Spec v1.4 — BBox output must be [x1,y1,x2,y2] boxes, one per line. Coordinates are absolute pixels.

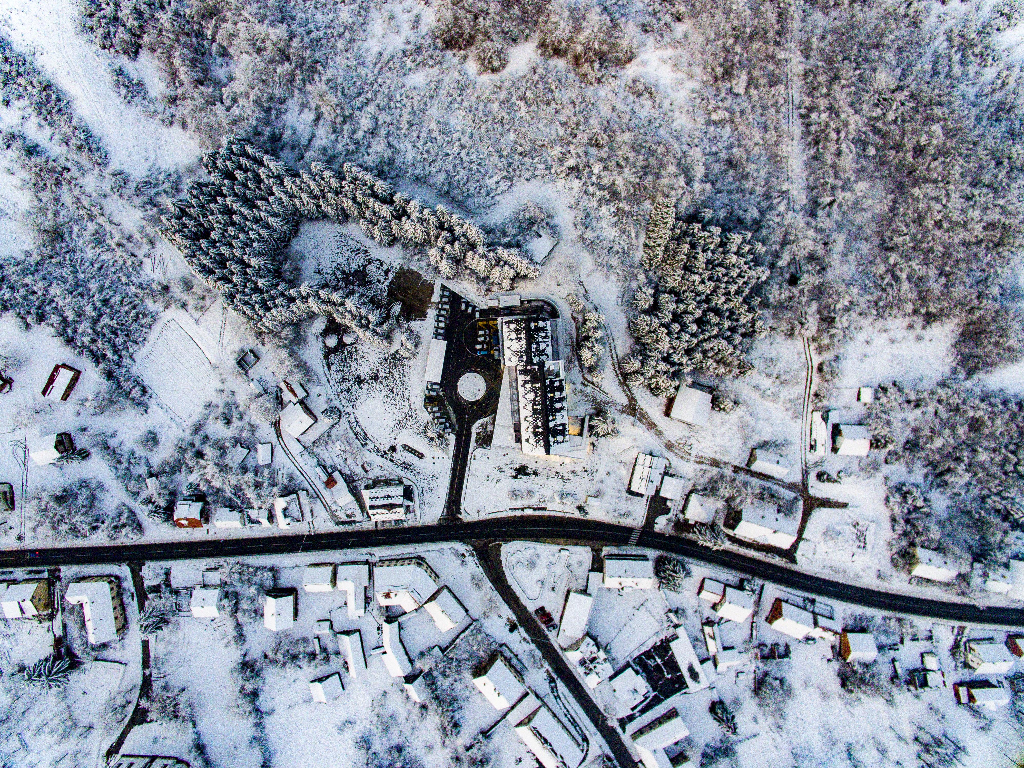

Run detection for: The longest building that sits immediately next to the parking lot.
[492,316,569,454]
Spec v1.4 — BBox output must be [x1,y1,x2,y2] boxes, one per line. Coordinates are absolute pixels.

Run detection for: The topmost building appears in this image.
[524,232,556,263]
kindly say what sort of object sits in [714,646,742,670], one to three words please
shed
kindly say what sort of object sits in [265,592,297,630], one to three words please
house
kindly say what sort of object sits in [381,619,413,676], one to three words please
barn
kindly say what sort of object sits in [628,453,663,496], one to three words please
building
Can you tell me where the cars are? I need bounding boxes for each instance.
[475,344,486,349]
[434,316,446,321]
[547,623,558,631]
[436,309,447,315]
[428,406,439,412]
[540,611,552,619]
[424,397,435,403]
[428,384,439,389]
[439,290,451,296]
[461,299,466,310]
[478,330,489,335]
[440,422,451,428]
[475,307,480,319]
[433,328,445,333]
[543,616,555,625]
[435,418,446,423]
[534,606,545,614]
[438,297,449,302]
[434,322,445,327]
[477,350,488,356]
[433,334,444,340]
[426,390,437,396]
[467,302,474,314]
[478,336,489,341]
[442,427,454,433]
[430,412,441,417]
[438,304,450,309]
